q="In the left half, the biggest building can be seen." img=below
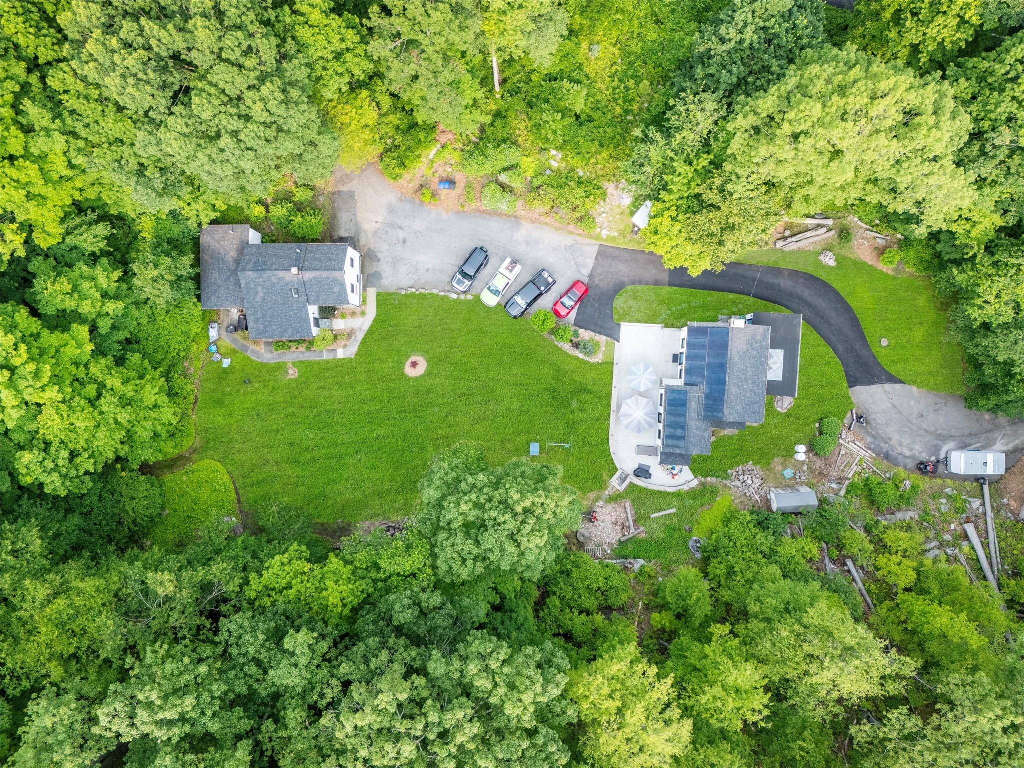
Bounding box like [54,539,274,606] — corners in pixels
[195,224,362,340]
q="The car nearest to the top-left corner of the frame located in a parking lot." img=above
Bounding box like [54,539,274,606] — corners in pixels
[455,247,488,291]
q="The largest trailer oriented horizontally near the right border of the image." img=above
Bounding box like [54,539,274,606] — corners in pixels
[939,451,1005,475]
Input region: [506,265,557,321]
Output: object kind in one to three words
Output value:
truck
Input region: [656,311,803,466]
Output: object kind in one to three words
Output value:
house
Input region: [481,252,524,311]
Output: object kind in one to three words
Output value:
truck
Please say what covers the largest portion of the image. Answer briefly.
trees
